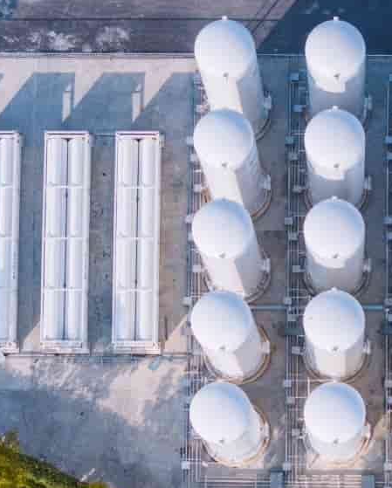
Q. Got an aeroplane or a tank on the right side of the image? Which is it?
tank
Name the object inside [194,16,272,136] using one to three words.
storage tank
